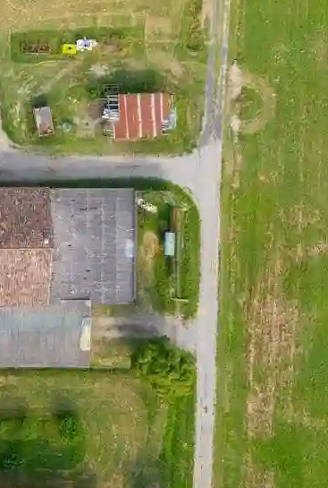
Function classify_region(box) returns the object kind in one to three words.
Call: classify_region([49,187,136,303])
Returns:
shed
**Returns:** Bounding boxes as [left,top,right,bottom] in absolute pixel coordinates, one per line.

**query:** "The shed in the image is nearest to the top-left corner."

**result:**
[35,106,55,136]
